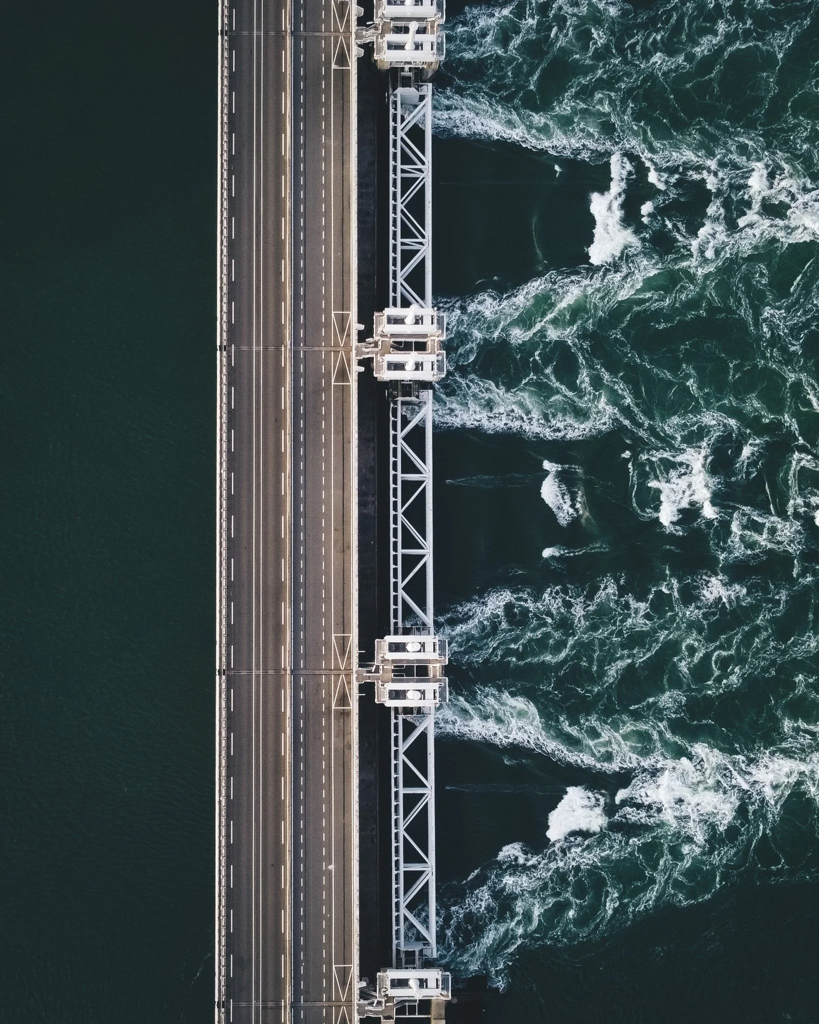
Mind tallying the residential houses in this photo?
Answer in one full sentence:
No residential houses are visible.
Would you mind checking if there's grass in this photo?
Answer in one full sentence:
No, grass can't be seen anywhere here.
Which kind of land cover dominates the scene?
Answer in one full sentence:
The bulk of the photo consists of water.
